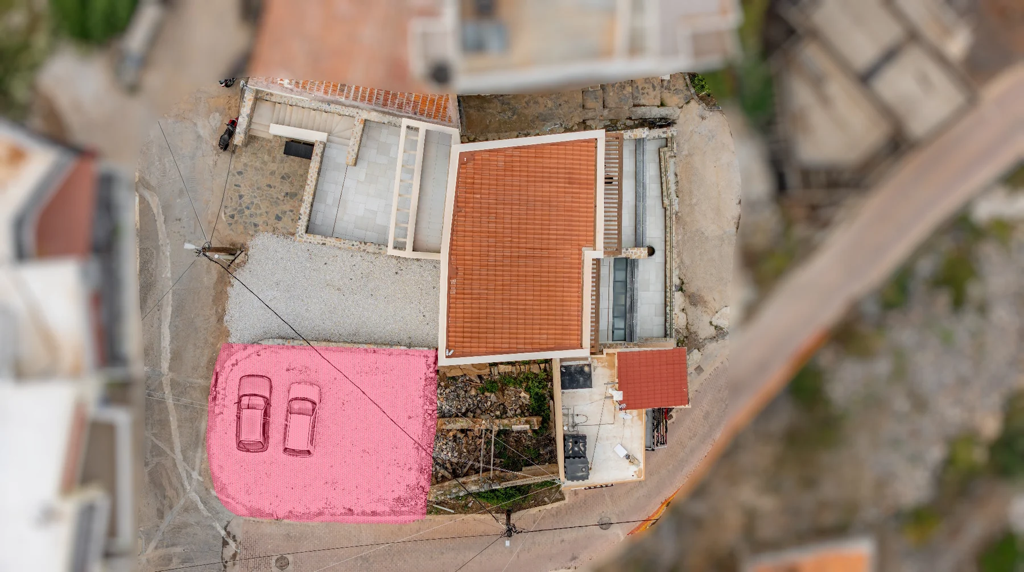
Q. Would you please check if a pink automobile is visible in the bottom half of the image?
Yes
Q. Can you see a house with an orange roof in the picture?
Yes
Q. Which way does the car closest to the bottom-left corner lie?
vertically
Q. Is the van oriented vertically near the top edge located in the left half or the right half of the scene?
left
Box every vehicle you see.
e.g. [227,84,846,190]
[282,380,323,459]
[232,374,273,453]
[219,61,248,88]
[111,0,167,91]
[220,117,239,152]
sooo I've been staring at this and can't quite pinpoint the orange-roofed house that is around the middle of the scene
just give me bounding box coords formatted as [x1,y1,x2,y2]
[438,130,605,365]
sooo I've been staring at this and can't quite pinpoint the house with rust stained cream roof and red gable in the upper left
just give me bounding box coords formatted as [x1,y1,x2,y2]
[0,113,107,261]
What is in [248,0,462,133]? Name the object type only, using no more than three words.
house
